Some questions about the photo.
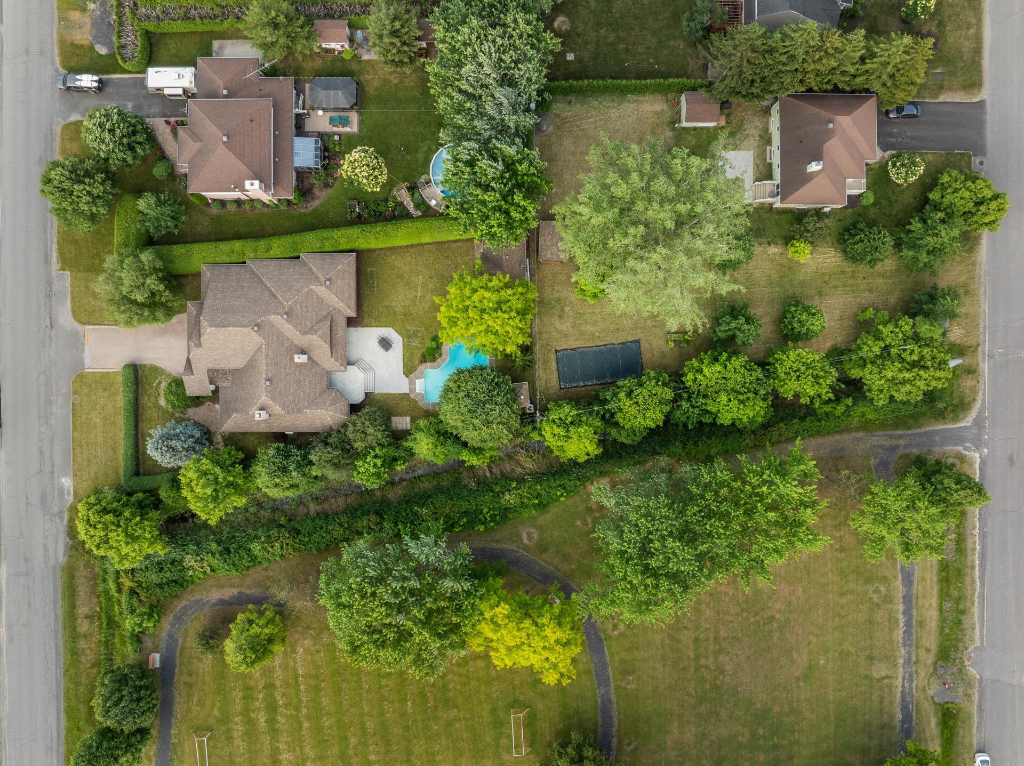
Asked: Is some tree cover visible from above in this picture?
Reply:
Yes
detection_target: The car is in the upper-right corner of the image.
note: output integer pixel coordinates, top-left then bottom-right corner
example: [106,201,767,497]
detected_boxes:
[882,101,923,120]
